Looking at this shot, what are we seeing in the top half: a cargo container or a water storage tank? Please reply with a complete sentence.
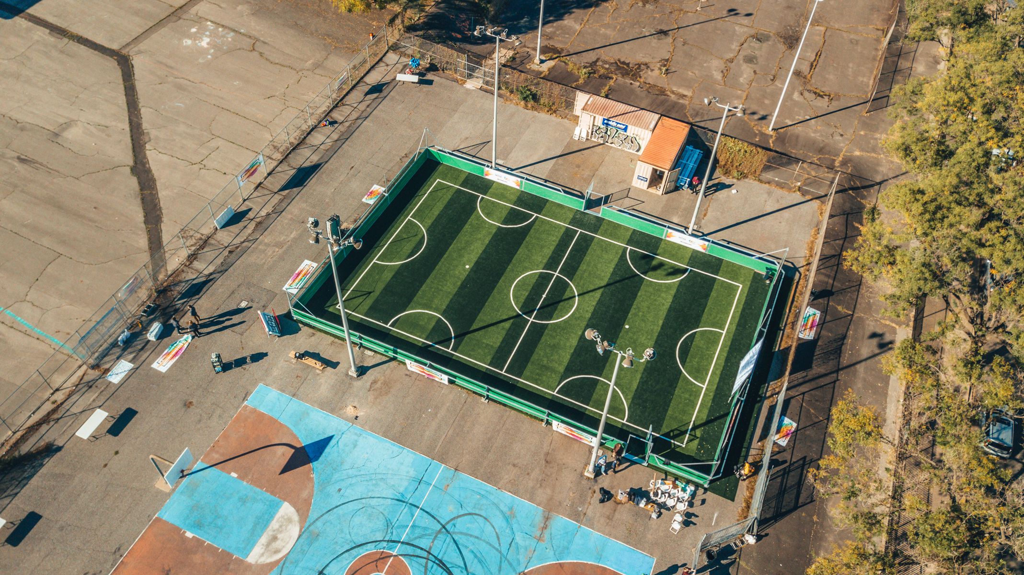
The feature located in the top half is a cargo container.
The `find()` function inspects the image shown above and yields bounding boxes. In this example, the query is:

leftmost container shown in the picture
[574,92,660,154]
